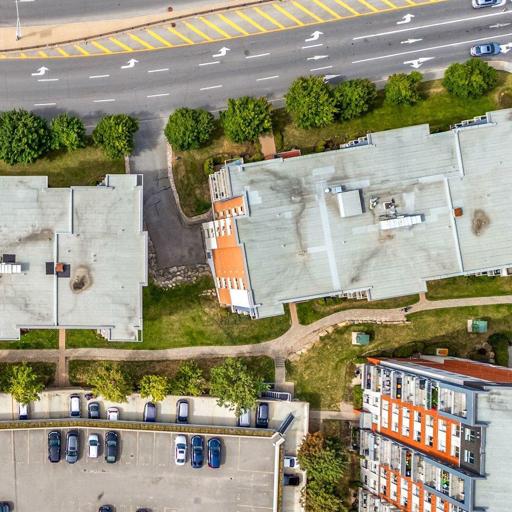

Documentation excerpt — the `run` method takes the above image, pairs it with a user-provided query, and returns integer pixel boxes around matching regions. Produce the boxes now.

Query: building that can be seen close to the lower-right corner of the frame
[343,354,512,512]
